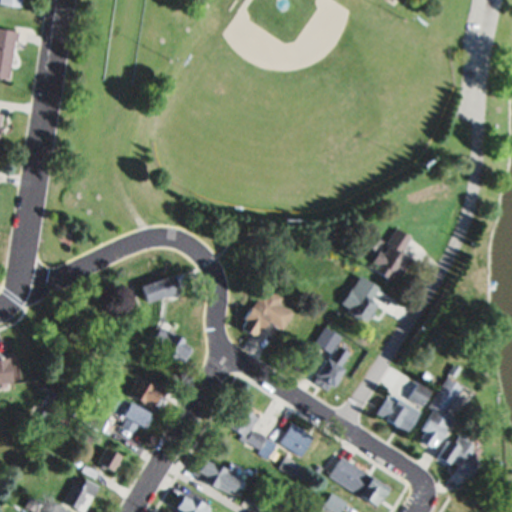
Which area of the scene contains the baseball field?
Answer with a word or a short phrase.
top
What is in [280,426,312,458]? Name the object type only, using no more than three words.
house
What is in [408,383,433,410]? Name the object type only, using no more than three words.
building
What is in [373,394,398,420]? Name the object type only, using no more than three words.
building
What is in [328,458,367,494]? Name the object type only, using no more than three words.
house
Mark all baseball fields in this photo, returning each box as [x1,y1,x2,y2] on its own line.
[152,0,454,213]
